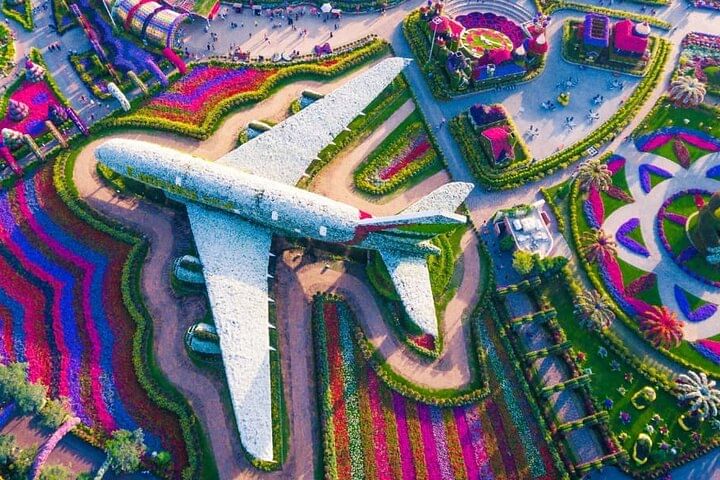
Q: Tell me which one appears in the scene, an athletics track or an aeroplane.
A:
aeroplane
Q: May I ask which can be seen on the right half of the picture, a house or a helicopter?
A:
house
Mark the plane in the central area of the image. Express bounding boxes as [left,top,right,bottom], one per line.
[91,57,476,462]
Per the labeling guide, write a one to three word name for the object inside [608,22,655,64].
house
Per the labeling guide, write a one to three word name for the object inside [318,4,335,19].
umbrella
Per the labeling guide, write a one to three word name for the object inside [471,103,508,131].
shed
